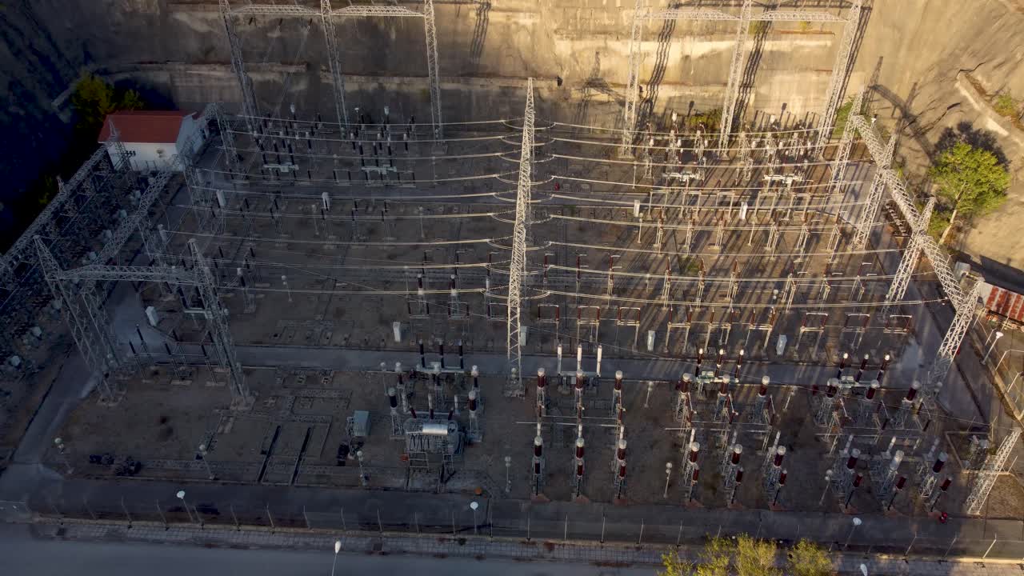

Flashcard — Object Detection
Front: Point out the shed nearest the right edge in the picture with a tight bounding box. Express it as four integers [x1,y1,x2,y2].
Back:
[960,282,1024,348]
